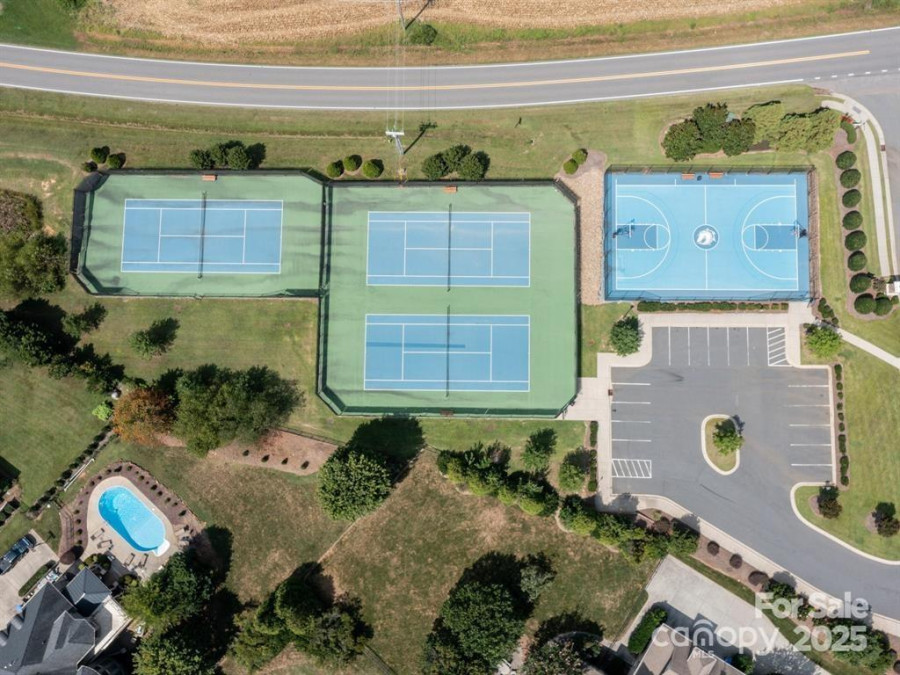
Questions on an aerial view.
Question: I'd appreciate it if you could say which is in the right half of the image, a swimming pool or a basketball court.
basketball court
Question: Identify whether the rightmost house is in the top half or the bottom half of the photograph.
bottom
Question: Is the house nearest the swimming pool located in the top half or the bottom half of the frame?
bottom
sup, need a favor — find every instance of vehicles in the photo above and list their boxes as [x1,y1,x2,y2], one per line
[0,537,34,578]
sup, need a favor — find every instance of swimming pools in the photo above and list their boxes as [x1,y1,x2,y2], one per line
[80,476,193,584]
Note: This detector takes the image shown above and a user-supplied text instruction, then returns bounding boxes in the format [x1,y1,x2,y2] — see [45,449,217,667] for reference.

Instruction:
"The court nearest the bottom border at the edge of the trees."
[323,300,577,417]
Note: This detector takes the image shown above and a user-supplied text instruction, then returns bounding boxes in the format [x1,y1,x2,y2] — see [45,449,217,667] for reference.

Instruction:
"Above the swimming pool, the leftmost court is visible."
[80,175,322,296]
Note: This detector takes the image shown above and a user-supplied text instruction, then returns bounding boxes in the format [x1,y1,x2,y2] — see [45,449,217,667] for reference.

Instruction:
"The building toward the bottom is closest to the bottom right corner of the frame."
[621,623,748,675]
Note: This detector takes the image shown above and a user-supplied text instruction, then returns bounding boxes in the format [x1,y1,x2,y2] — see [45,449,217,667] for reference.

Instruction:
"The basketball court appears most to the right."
[604,172,809,301]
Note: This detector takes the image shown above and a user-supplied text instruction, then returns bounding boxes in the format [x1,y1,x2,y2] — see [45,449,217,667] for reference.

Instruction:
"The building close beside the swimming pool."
[0,562,126,675]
